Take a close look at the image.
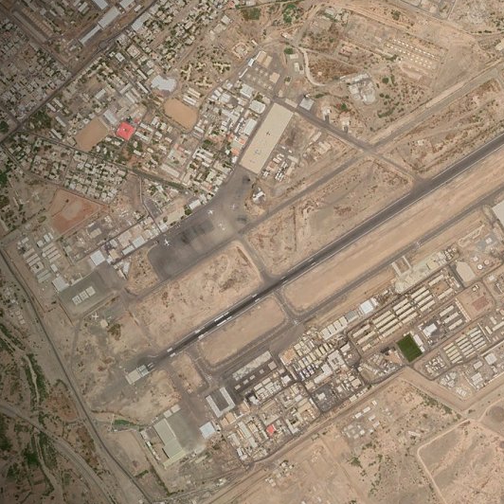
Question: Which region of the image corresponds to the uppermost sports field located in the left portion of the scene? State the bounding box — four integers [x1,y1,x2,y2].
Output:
[164,98,197,129]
